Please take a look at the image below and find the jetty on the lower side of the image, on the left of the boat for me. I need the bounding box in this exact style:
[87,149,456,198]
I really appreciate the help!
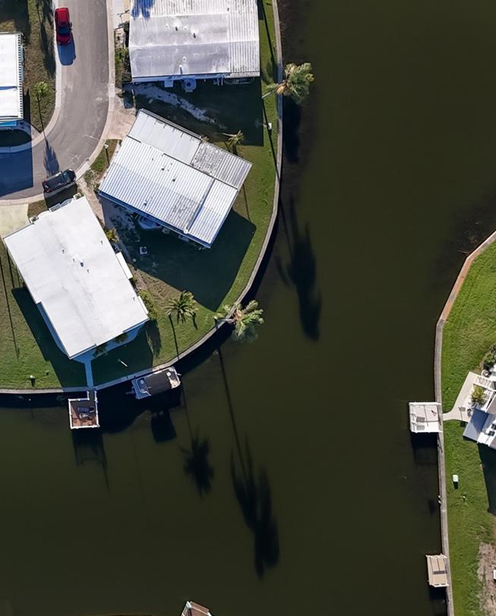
[67,390,102,431]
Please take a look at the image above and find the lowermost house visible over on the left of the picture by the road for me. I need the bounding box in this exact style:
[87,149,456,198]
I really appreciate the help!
[4,193,148,359]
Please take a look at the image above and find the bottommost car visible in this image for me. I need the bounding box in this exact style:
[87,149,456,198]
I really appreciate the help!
[39,169,77,194]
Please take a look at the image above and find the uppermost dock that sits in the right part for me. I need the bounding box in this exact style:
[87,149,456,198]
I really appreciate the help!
[408,403,444,435]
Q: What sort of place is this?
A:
residential area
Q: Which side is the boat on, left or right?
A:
left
